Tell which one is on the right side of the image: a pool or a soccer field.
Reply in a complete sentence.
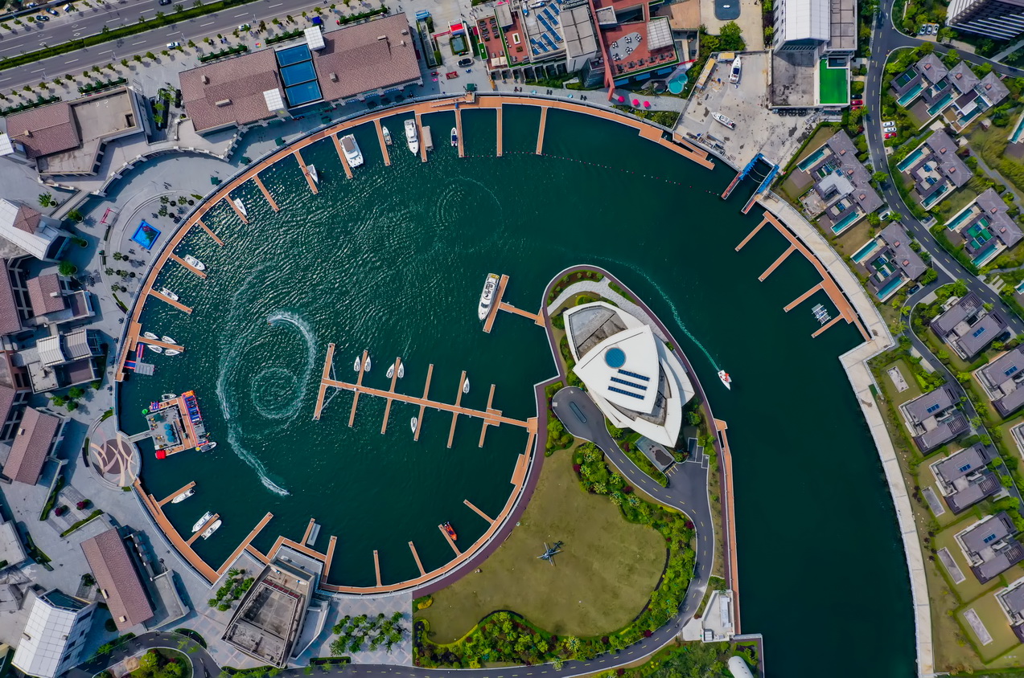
Visible on the right side of the image is a pool.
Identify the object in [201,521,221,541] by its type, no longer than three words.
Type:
boat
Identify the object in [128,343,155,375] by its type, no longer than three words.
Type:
pier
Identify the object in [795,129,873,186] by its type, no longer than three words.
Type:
house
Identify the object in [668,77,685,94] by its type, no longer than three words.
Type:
swimming pool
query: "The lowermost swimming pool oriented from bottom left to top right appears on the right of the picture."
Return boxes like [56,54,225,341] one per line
[875,275,909,301]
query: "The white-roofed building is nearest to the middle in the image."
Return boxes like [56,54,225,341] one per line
[564,301,695,448]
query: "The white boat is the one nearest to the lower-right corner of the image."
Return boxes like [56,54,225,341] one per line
[719,370,732,390]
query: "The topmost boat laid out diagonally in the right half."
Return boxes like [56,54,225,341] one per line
[712,112,737,130]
